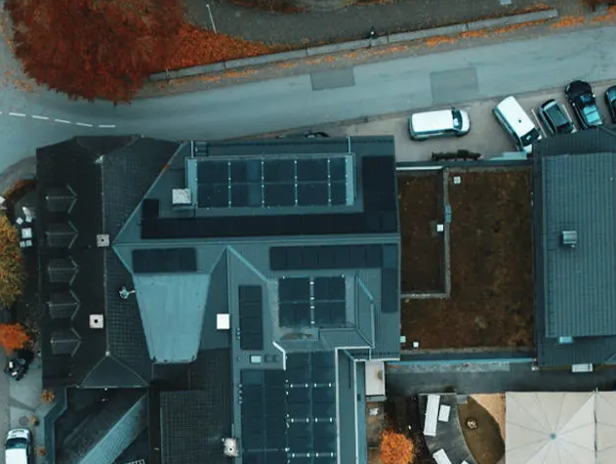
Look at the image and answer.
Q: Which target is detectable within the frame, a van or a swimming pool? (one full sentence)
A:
There is a van in the scene.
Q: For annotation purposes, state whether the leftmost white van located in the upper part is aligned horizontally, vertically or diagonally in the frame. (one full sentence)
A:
I'd say the leftmost white van located in the upper part is aligned horizontally in the picture.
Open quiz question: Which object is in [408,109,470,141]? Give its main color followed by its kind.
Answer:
white van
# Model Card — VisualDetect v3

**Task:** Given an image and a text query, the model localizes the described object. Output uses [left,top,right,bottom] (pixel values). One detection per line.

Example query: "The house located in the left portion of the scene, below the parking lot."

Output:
[36,135,403,464]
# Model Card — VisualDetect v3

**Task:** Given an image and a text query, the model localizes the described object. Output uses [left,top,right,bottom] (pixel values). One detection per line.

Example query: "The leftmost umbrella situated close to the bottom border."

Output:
[505,391,595,464]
